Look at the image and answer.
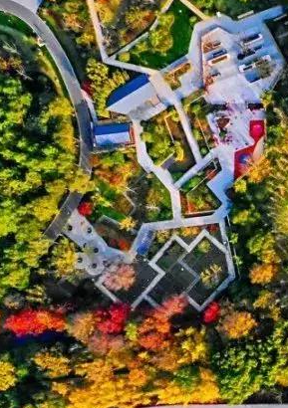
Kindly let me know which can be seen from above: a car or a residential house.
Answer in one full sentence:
Of the two, only a residential house appears.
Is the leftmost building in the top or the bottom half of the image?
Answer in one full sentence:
Seen from above, the leftmost building lies in the top half of the view.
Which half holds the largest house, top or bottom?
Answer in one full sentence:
The top half of the photo is where the largest house is.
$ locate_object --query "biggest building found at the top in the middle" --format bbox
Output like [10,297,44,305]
[106,71,167,126]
